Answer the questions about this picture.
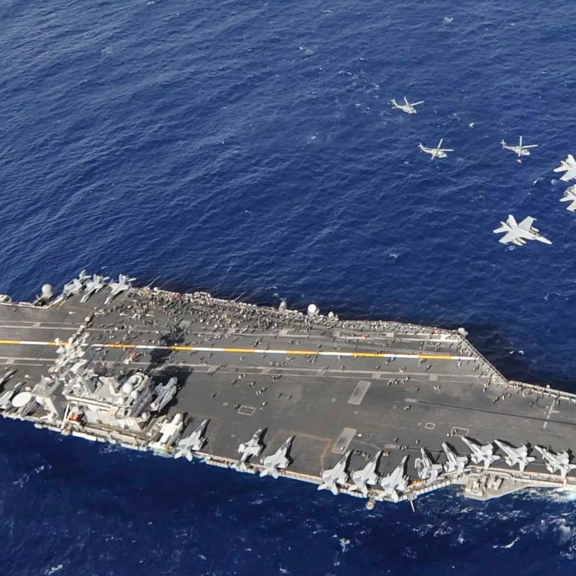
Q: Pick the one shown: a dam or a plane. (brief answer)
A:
plane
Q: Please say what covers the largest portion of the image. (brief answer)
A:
water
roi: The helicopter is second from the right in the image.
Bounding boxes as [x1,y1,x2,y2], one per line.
[421,136,456,161]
